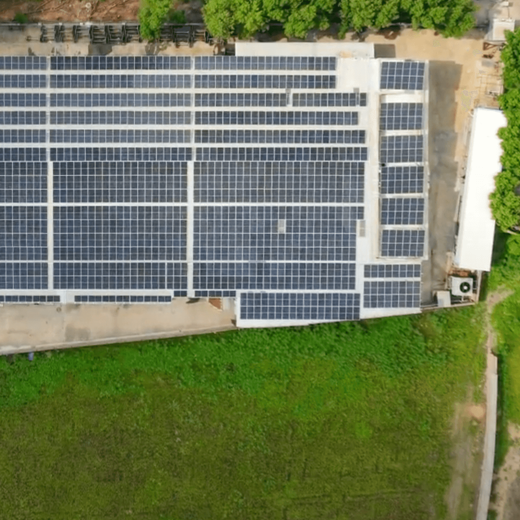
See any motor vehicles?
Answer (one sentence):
No, there isn't any motor vehicle down there.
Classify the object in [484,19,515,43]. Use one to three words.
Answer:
building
